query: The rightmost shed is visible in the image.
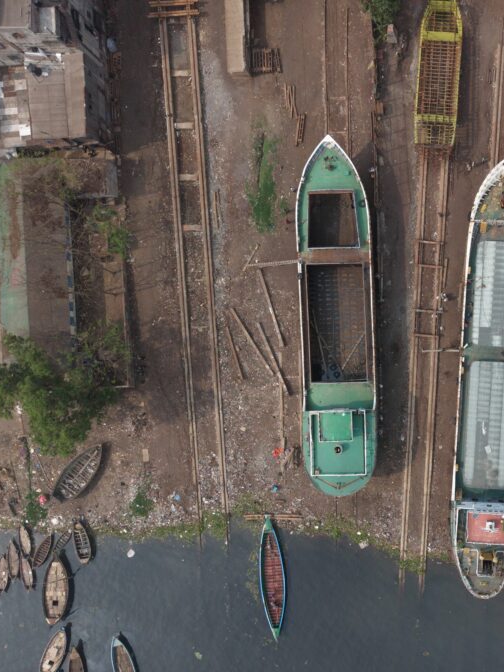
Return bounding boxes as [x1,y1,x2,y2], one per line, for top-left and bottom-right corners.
[226,0,254,82]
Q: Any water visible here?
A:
Yes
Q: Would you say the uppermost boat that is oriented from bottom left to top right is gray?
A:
Yes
